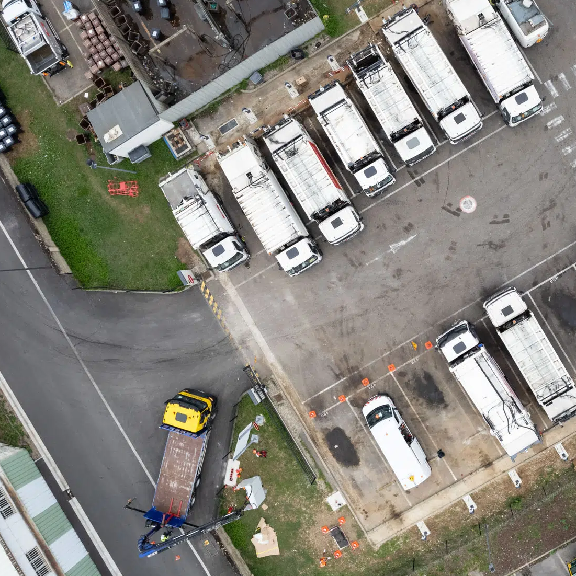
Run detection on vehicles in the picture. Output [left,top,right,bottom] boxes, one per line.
[158,164,251,273]
[478,283,576,427]
[304,74,400,197]
[492,0,549,56]
[379,2,487,146]
[214,138,324,276]
[0,0,77,88]
[122,388,254,559]
[346,41,442,171]
[439,0,546,128]
[365,393,431,486]
[433,322,541,459]
[260,109,368,247]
